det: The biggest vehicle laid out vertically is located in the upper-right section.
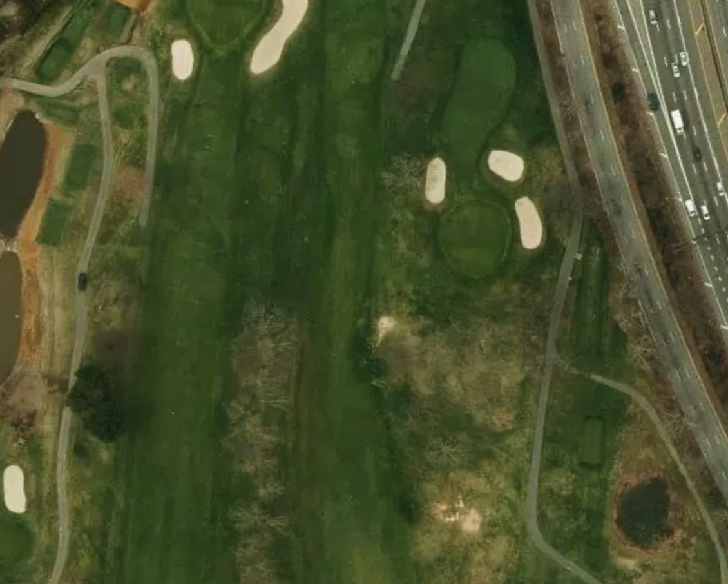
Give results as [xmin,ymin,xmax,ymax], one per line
[672,109,684,134]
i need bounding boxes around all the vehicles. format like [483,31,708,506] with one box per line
[680,50,688,65]
[716,181,725,195]
[649,10,658,25]
[648,93,659,109]
[702,203,710,218]
[686,199,696,216]
[672,62,680,78]
[672,109,684,134]
[79,273,86,290]
[693,145,702,160]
